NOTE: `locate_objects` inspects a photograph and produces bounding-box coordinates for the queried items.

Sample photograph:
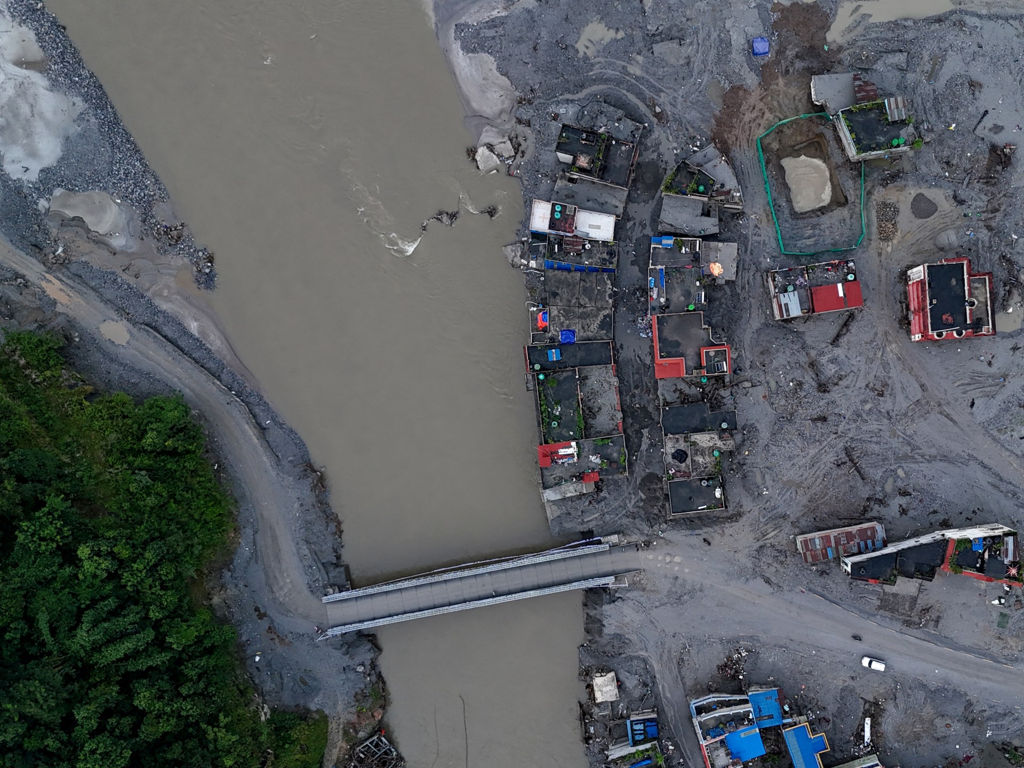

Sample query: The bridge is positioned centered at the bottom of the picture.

[320,540,644,643]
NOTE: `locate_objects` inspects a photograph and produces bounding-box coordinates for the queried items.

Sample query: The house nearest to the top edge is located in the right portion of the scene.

[806,73,878,120]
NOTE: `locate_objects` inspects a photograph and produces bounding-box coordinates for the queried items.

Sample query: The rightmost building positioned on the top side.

[907,257,996,342]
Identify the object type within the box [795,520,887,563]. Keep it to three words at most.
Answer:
shed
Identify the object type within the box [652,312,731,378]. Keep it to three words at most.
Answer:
house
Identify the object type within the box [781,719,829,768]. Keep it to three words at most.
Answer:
house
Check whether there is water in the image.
Yes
